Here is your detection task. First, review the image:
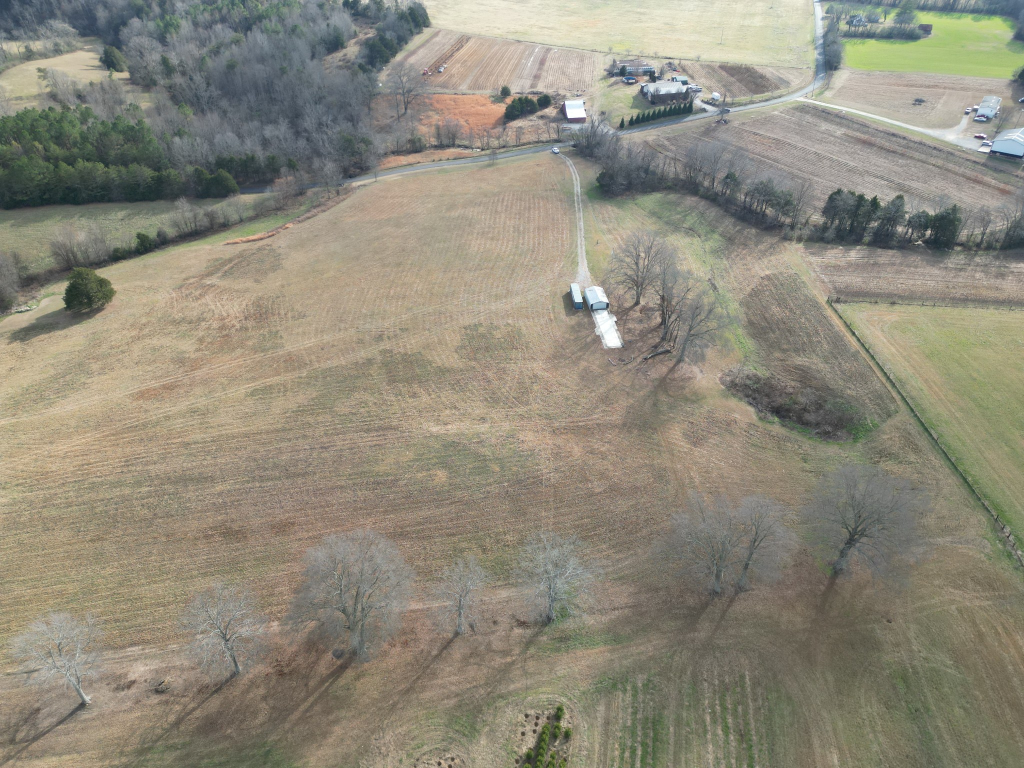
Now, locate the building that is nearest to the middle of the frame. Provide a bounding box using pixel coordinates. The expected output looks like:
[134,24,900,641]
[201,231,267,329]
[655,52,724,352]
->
[584,285,610,310]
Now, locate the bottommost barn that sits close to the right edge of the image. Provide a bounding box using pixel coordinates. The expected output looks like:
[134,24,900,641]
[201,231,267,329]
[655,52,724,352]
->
[989,127,1024,162]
